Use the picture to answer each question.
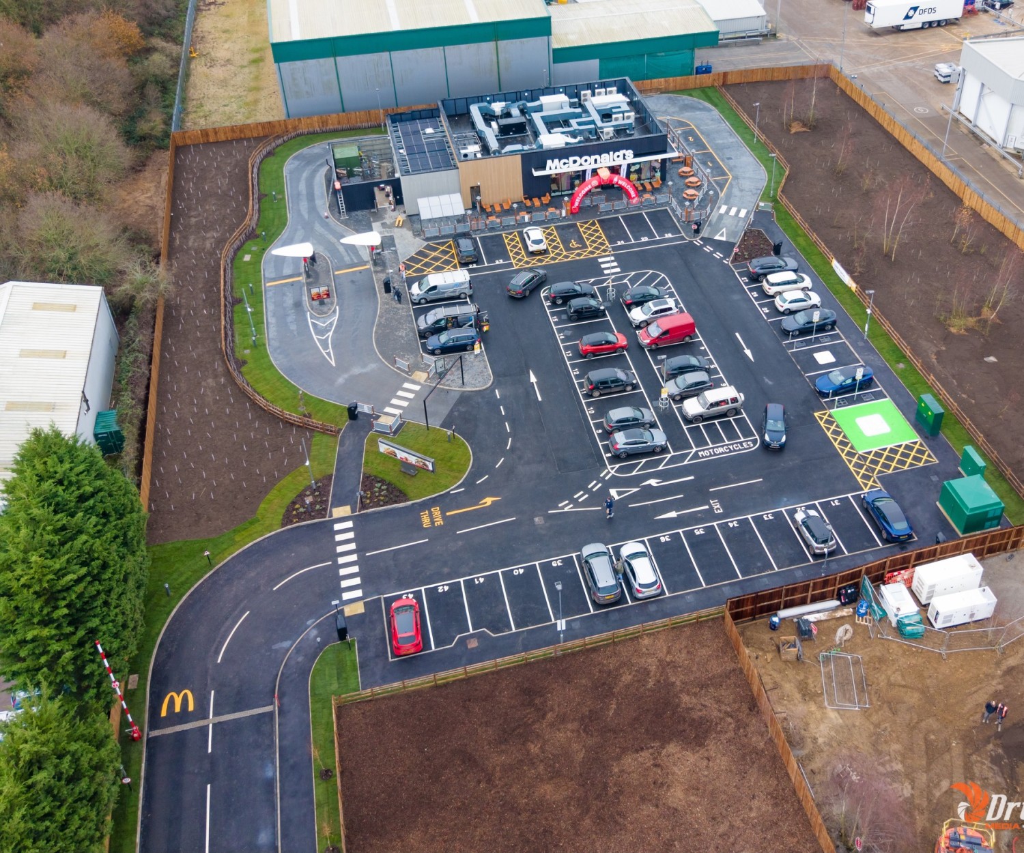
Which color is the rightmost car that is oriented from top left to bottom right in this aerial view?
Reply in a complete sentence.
The rightmost car that is oriented from top left to bottom right is blue.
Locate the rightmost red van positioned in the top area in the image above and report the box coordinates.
[637,308,699,349]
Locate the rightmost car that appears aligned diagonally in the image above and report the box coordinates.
[857,490,922,545]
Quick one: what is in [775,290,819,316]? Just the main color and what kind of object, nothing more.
white car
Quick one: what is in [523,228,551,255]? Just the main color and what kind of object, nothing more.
white car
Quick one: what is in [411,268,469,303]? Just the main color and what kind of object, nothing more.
white van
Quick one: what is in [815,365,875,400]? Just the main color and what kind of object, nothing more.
blue car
